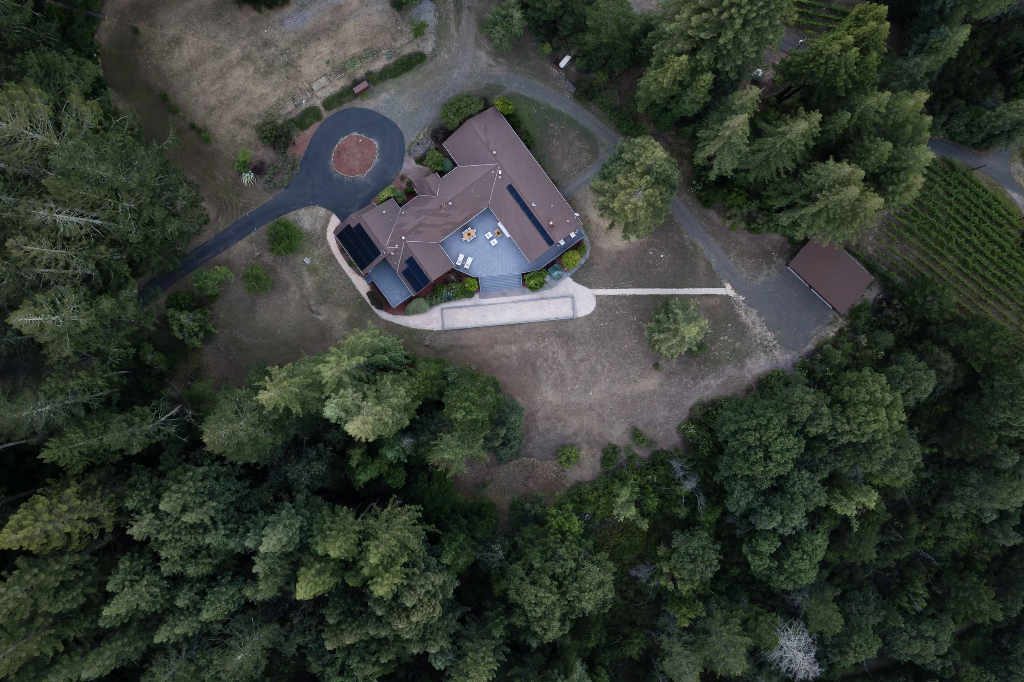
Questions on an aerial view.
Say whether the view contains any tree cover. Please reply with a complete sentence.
Yes, tree cover can be seen from above here.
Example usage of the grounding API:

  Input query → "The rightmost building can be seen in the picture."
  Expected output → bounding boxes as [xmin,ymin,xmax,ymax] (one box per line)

[785,241,874,325]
